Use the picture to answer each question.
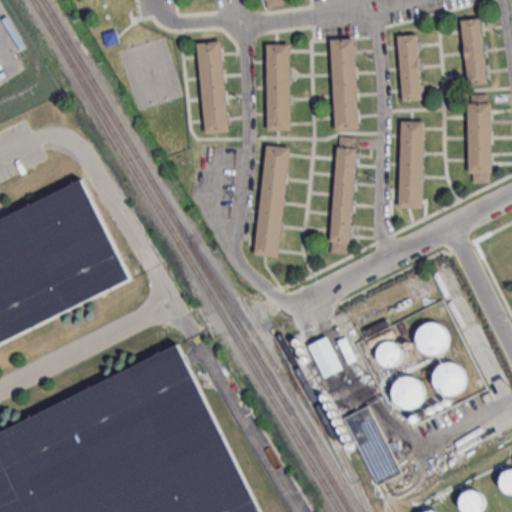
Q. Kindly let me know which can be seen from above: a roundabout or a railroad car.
railroad car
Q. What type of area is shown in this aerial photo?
industrial area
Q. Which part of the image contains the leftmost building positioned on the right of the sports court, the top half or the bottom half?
top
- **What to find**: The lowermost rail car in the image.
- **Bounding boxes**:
[312,402,336,438]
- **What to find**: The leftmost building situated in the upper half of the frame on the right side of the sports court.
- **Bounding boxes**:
[196,40,231,133]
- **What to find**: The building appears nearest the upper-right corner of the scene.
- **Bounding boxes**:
[459,18,488,88]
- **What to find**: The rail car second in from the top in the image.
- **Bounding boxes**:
[293,366,316,402]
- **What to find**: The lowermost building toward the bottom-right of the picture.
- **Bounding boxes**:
[345,406,400,482]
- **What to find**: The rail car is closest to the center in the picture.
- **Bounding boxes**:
[274,331,297,368]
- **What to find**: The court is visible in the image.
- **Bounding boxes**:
[122,40,184,110]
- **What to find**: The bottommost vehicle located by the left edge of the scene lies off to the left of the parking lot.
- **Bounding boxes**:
[14,158,26,175]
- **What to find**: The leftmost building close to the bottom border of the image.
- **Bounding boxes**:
[0,342,264,512]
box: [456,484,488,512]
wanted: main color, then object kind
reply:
white storage tank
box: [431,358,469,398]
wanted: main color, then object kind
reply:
white storage tank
